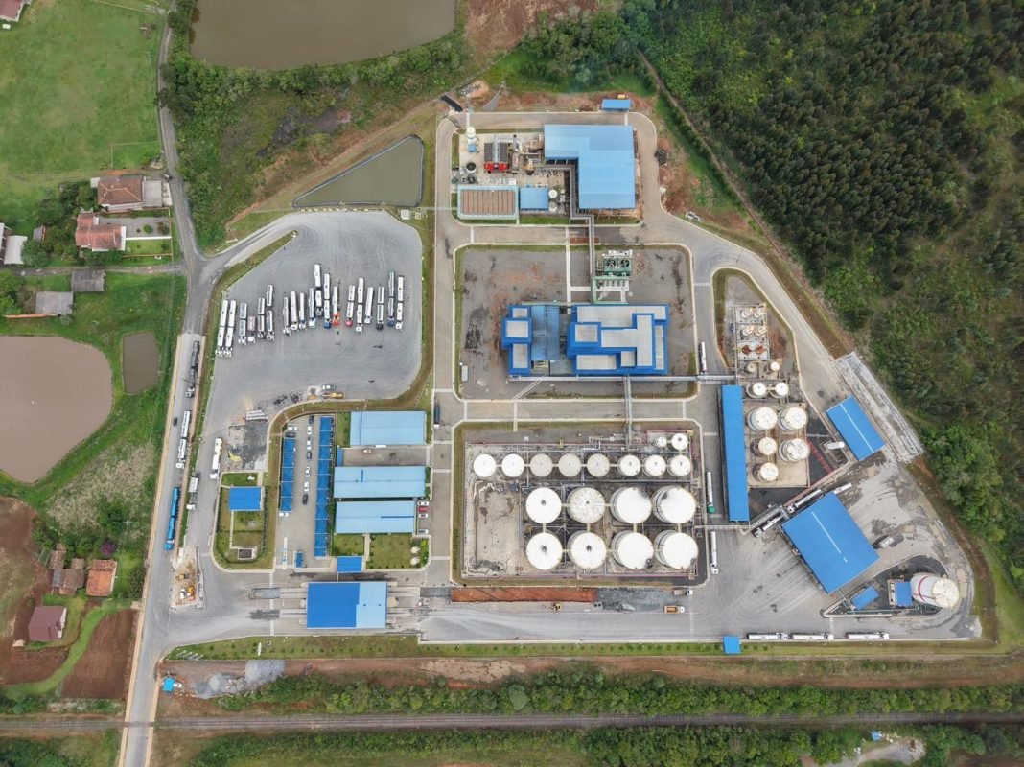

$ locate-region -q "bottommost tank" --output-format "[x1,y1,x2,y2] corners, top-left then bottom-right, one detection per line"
[910,574,960,607]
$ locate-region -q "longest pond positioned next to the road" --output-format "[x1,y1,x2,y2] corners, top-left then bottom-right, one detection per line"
[296,136,423,205]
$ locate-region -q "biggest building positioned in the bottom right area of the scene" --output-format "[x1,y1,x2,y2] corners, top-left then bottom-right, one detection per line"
[889,581,913,606]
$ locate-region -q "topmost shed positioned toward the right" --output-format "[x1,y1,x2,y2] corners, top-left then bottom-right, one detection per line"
[602,99,631,114]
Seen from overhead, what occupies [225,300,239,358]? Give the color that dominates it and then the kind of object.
white vehicle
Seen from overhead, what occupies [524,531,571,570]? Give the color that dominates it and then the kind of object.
white storage tank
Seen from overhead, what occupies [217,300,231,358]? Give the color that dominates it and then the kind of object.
white vehicle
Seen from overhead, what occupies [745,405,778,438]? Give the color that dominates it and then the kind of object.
white storage tank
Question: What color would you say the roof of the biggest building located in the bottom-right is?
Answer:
blue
